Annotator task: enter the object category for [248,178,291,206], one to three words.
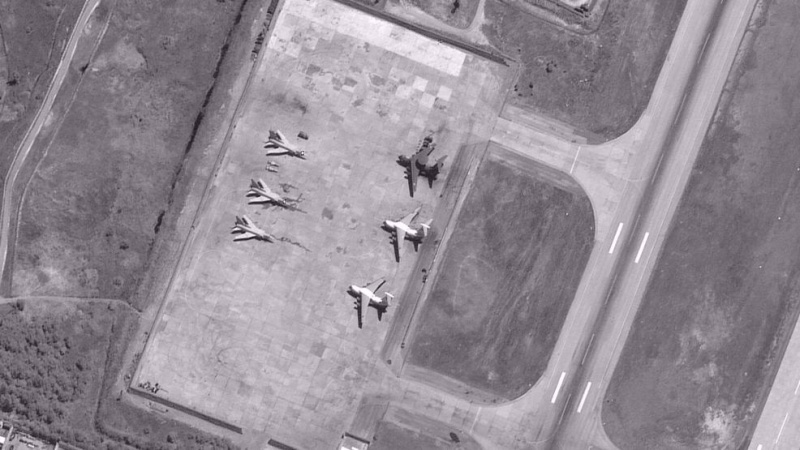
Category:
airplane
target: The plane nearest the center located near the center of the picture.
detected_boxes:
[384,208,433,258]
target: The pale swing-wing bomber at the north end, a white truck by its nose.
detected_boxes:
[265,129,307,158]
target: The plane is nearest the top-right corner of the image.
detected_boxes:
[399,141,448,191]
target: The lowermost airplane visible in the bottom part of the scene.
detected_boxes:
[348,277,397,327]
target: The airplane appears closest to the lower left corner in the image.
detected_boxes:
[233,214,275,243]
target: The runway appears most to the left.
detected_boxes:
[512,0,761,450]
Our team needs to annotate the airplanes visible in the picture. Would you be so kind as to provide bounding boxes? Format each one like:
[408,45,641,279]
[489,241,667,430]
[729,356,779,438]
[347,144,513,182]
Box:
[348,277,397,327]
[399,141,448,191]
[248,178,291,206]
[384,208,433,258]
[265,129,307,158]
[233,214,275,243]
